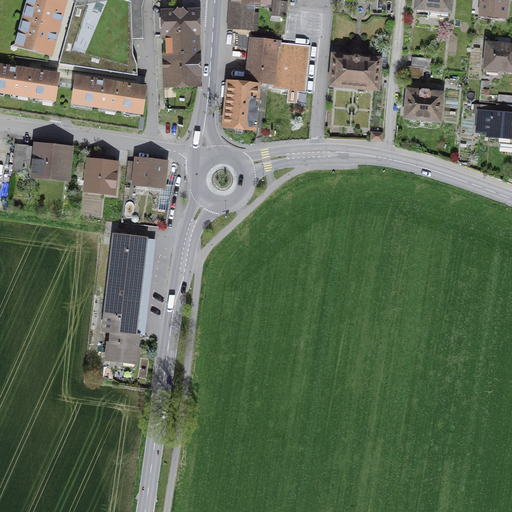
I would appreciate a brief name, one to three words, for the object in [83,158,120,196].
house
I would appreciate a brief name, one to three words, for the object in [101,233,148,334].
barn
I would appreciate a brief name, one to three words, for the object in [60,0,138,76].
building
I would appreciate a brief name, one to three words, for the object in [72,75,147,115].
house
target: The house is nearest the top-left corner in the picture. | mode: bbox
[14,0,69,57]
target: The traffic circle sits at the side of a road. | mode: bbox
[174,144,257,214]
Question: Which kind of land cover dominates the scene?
grass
